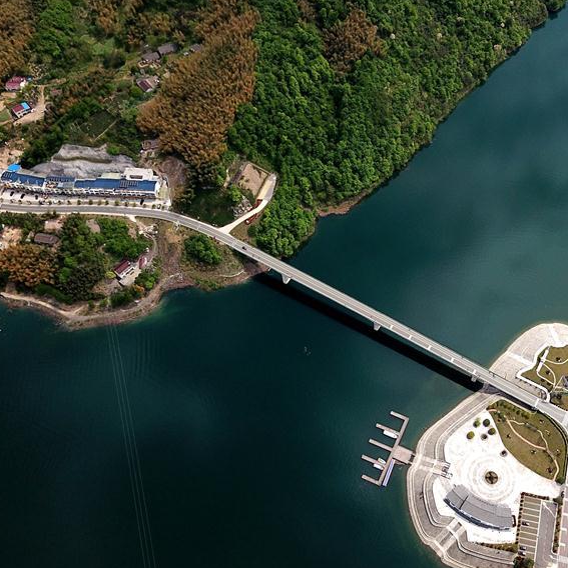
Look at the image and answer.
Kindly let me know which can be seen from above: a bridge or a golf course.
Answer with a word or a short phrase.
bridge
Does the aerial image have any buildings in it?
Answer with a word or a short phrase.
Yes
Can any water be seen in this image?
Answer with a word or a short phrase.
Yes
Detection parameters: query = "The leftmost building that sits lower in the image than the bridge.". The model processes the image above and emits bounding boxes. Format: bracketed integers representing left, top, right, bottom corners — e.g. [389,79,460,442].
[443,486,512,531]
